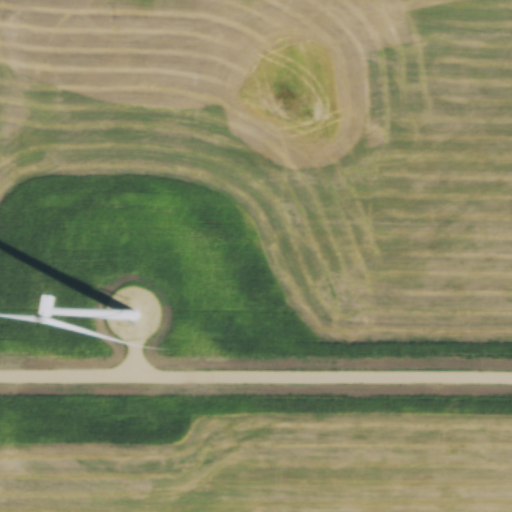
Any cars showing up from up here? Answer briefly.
No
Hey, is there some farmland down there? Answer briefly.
Yes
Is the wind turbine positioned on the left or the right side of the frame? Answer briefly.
left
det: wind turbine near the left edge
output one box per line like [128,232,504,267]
[0,294,166,350]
